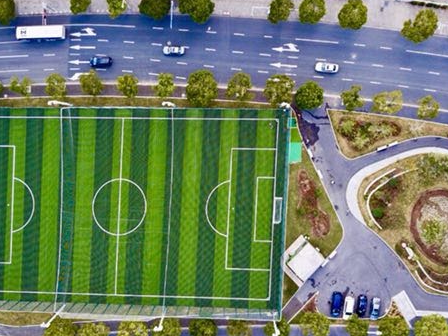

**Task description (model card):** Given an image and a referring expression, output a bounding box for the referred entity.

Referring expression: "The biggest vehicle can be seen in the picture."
[13,24,69,40]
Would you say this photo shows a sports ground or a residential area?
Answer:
sports ground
